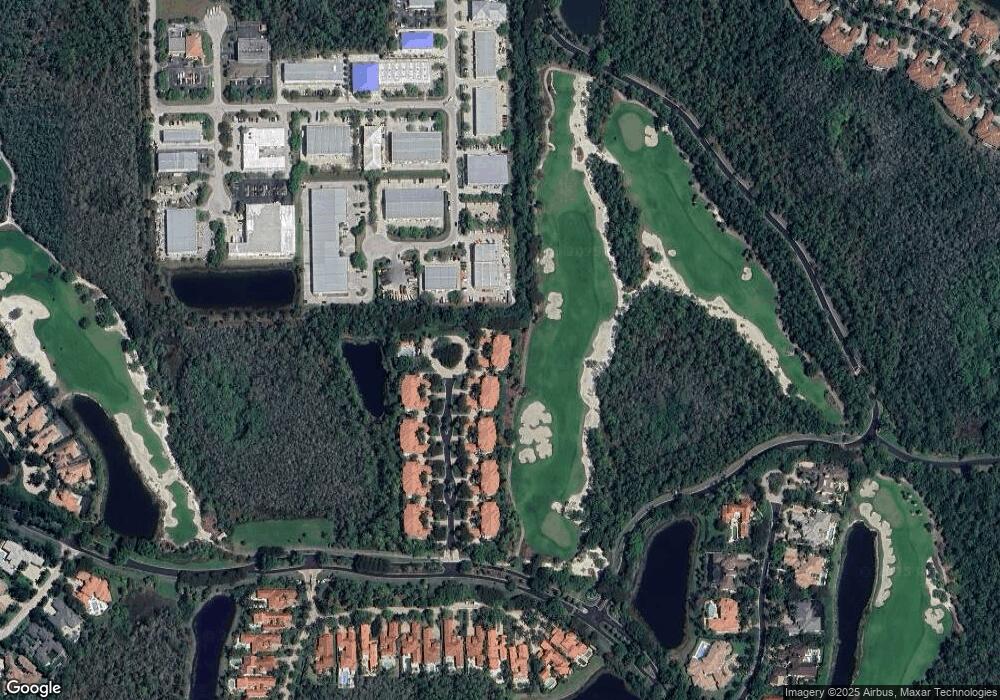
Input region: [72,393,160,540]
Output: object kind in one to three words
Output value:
pond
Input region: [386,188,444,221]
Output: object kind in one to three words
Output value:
building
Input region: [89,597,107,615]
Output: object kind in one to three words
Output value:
swimming pool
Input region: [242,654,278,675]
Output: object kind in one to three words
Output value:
house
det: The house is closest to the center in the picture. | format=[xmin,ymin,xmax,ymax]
[479,334,511,369]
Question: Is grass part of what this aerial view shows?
Yes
